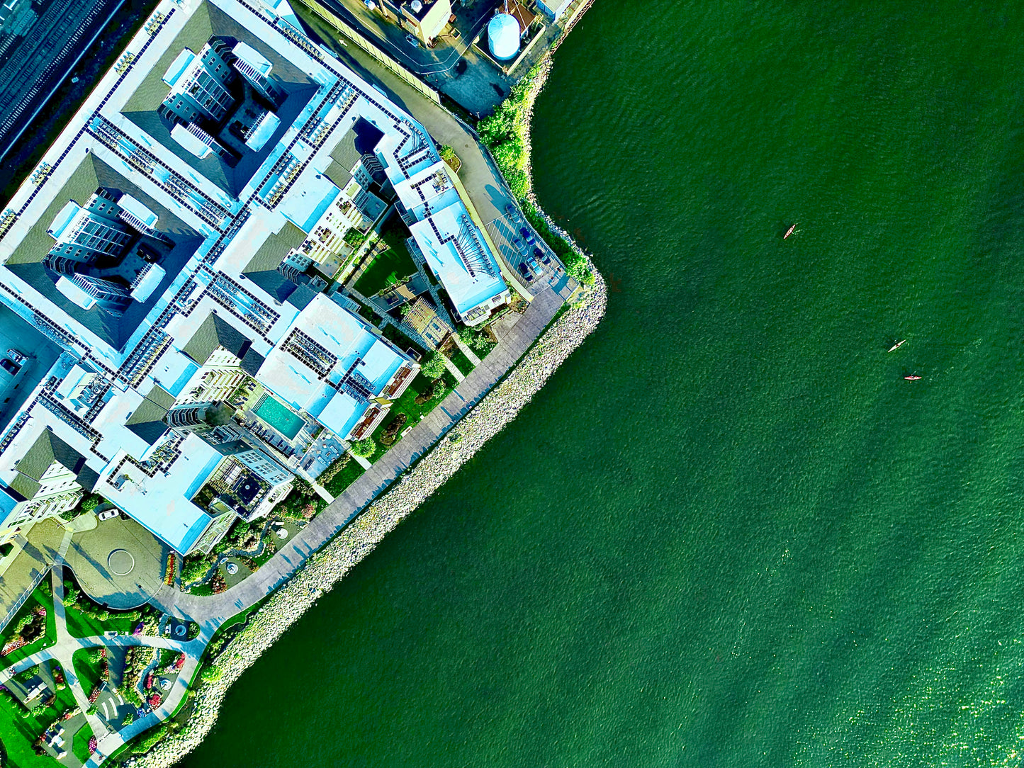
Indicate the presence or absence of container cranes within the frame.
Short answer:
No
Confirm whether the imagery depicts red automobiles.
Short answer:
No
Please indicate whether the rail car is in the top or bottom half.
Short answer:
top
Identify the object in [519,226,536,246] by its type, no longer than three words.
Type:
car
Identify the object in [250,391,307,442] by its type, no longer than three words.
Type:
swimming pool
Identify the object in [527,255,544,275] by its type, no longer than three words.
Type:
car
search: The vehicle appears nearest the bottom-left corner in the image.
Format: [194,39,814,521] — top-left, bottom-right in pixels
[96,509,118,521]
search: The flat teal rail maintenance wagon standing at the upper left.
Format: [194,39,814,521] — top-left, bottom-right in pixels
[10,7,31,30]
